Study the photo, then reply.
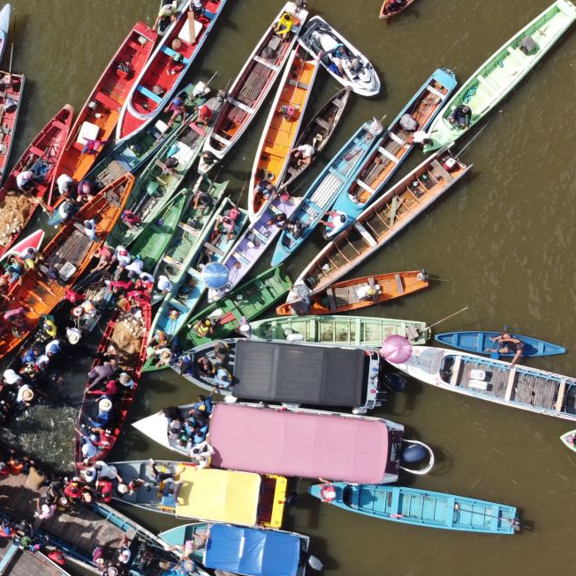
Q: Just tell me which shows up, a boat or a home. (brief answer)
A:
boat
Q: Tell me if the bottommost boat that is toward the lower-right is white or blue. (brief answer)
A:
blue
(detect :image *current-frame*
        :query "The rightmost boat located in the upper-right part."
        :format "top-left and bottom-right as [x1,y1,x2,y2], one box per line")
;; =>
[419,0,576,155]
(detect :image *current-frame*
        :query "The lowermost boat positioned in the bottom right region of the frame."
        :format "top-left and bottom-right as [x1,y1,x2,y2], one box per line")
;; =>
[308,482,530,535]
